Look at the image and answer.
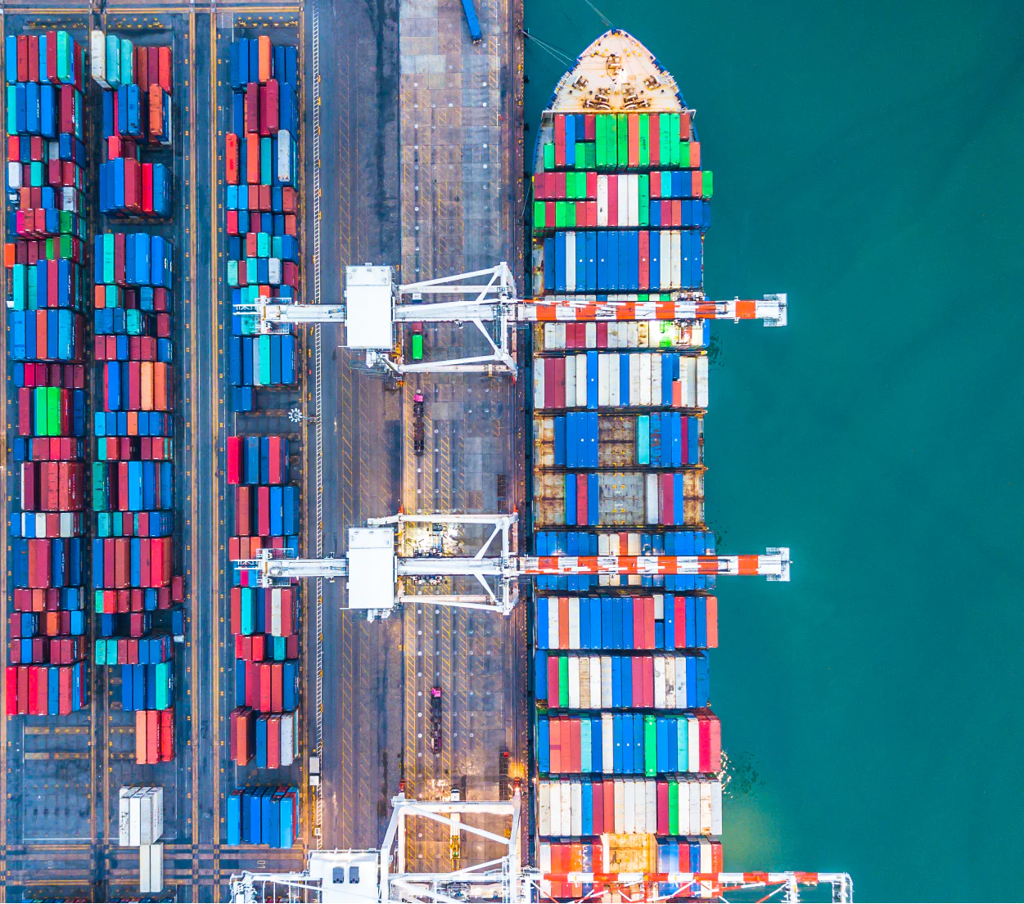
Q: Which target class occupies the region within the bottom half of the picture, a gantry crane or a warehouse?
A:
gantry crane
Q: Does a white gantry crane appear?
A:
Yes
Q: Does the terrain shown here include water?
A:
Yes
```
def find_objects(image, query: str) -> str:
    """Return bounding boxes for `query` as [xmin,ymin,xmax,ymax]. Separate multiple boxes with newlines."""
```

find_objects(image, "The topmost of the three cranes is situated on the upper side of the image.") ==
[231,260,784,397]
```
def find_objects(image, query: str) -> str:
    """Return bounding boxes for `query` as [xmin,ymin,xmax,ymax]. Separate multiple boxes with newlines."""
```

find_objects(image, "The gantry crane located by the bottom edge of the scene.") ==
[235,781,855,904]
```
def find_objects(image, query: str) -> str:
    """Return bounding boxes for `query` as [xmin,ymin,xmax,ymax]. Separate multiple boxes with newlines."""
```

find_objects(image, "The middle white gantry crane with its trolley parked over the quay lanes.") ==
[233,506,787,634]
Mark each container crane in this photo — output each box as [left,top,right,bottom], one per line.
[233,506,787,634]
[231,260,784,397]
[235,781,855,904]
